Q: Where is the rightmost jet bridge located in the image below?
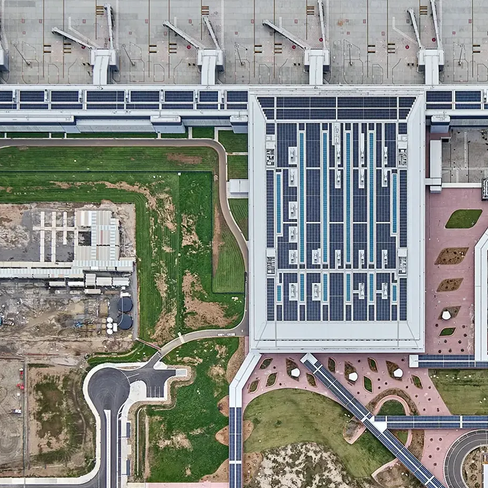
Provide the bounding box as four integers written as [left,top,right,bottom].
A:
[427,0,441,50]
